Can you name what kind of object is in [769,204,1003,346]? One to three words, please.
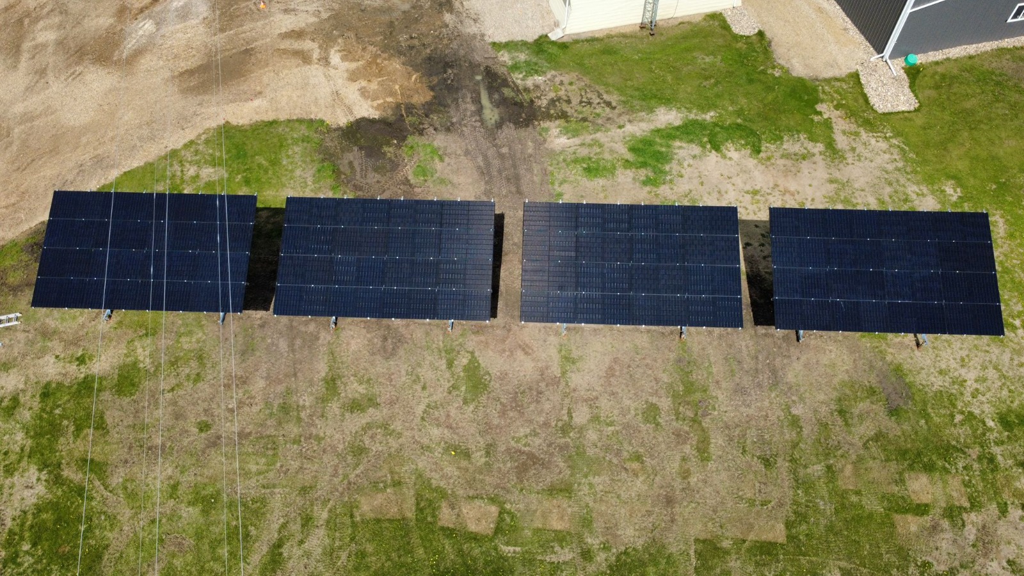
solar array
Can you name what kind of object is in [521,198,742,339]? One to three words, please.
solar array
